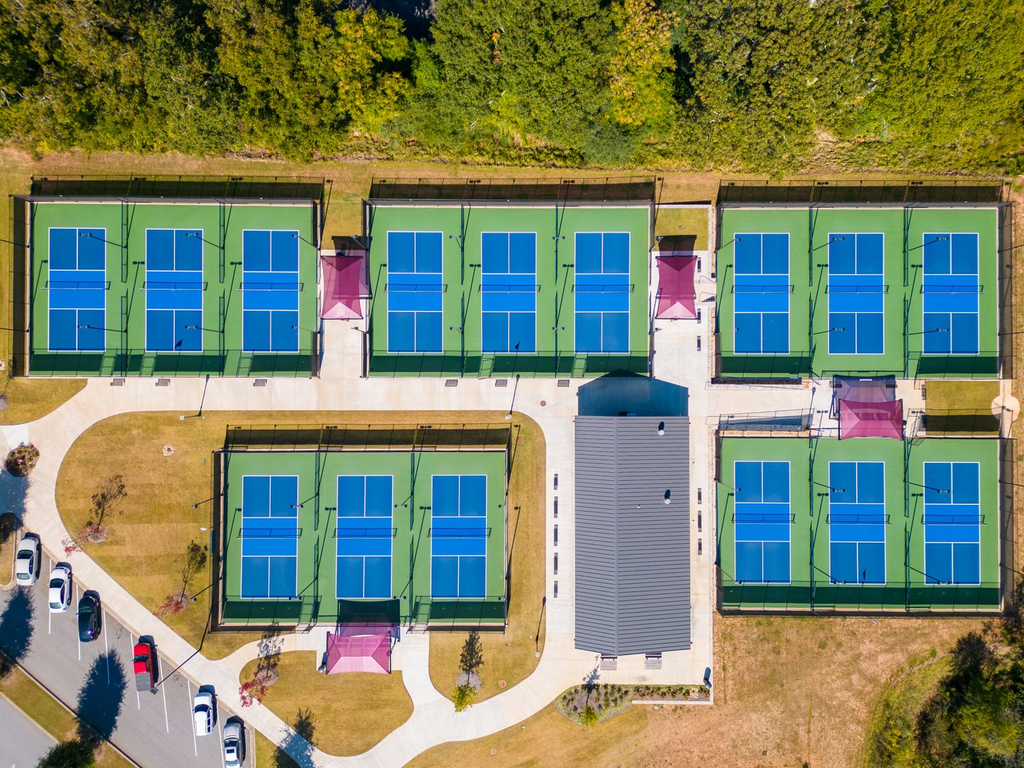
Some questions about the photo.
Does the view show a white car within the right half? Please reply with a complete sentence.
No, I can find no white car within the right half.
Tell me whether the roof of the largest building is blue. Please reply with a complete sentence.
No, the roof of the largest building is gray.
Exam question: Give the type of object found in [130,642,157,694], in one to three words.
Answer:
truck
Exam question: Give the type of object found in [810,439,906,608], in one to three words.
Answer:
sports court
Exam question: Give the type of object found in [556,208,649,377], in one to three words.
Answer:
sports court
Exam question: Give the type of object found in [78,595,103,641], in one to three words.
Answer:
car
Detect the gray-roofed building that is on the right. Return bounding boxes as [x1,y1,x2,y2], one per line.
[572,417,692,656]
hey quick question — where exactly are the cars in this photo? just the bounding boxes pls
[78,595,103,641]
[17,538,43,585]
[221,722,244,768]
[191,691,216,738]
[47,567,73,613]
